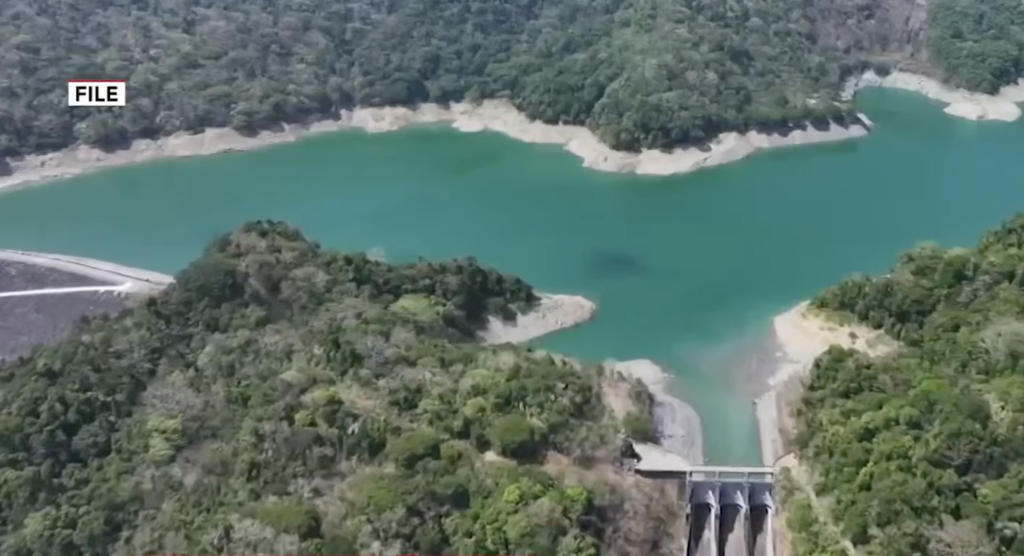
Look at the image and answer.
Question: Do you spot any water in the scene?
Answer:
Yes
